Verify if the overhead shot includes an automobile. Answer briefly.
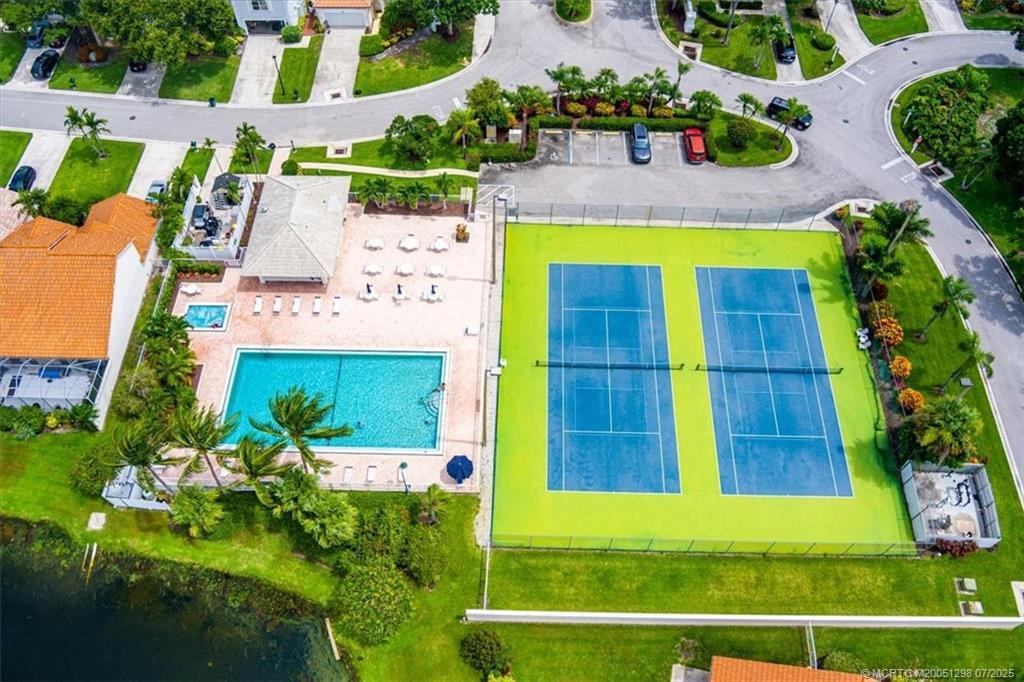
Yes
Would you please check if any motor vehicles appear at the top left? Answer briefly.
Yes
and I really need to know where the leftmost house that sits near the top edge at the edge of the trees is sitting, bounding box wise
[233,0,316,35]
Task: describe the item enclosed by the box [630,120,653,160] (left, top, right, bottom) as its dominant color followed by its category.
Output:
blue car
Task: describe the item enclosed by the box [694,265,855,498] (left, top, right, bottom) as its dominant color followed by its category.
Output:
blue tennis court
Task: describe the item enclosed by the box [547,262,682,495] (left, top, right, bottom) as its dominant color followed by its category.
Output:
blue tennis court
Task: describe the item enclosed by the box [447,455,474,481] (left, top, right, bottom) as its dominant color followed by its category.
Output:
blue umbrella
